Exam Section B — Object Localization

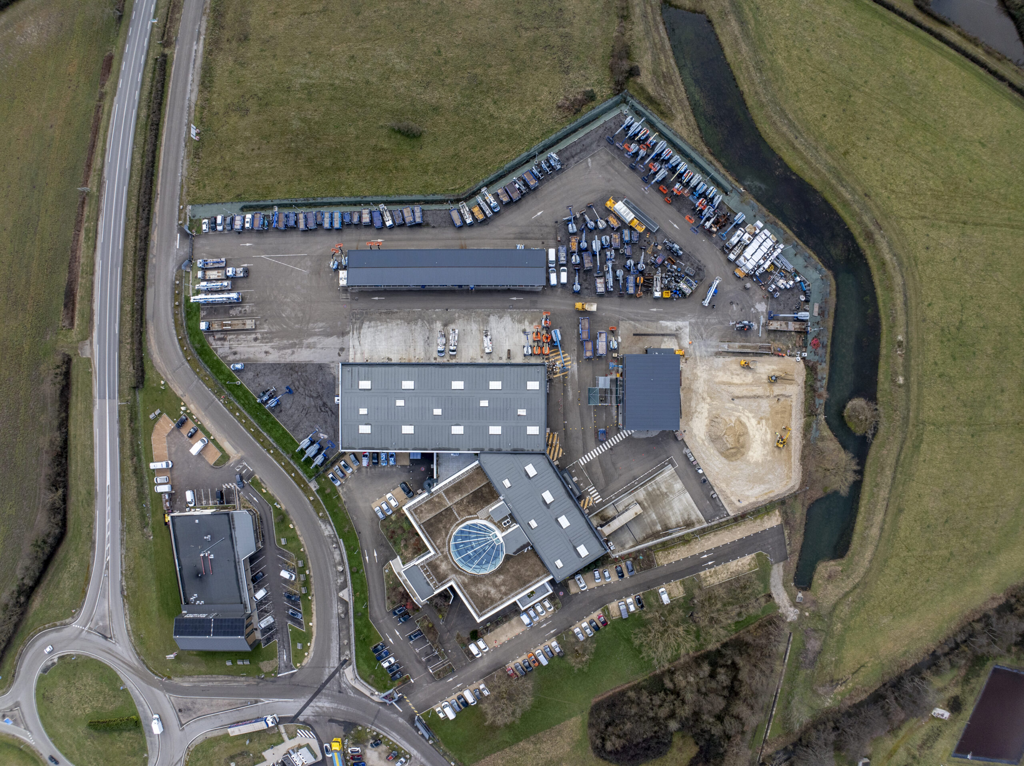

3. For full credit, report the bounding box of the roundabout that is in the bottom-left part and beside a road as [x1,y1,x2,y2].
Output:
[0,598,256,766]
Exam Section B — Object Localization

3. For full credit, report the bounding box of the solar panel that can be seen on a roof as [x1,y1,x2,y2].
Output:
[174,619,245,636]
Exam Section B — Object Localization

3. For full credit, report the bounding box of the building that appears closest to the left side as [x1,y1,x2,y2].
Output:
[170,509,260,651]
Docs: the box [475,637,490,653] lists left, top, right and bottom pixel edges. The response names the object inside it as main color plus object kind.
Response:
white vehicle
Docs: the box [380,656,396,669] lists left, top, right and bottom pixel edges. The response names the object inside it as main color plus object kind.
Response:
white vehicle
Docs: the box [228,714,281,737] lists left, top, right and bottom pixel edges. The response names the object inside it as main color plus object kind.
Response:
white truck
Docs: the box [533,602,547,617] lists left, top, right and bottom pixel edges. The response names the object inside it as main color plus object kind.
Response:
white car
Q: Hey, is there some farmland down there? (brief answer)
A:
Yes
